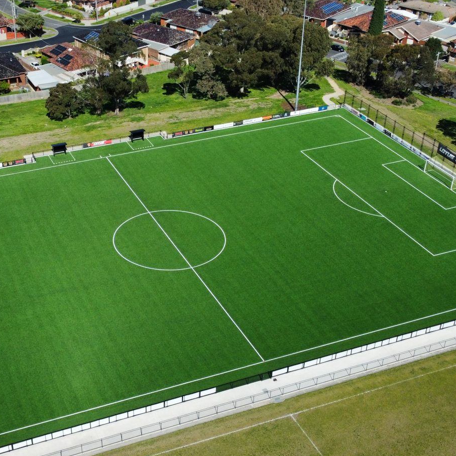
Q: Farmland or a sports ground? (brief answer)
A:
sports ground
